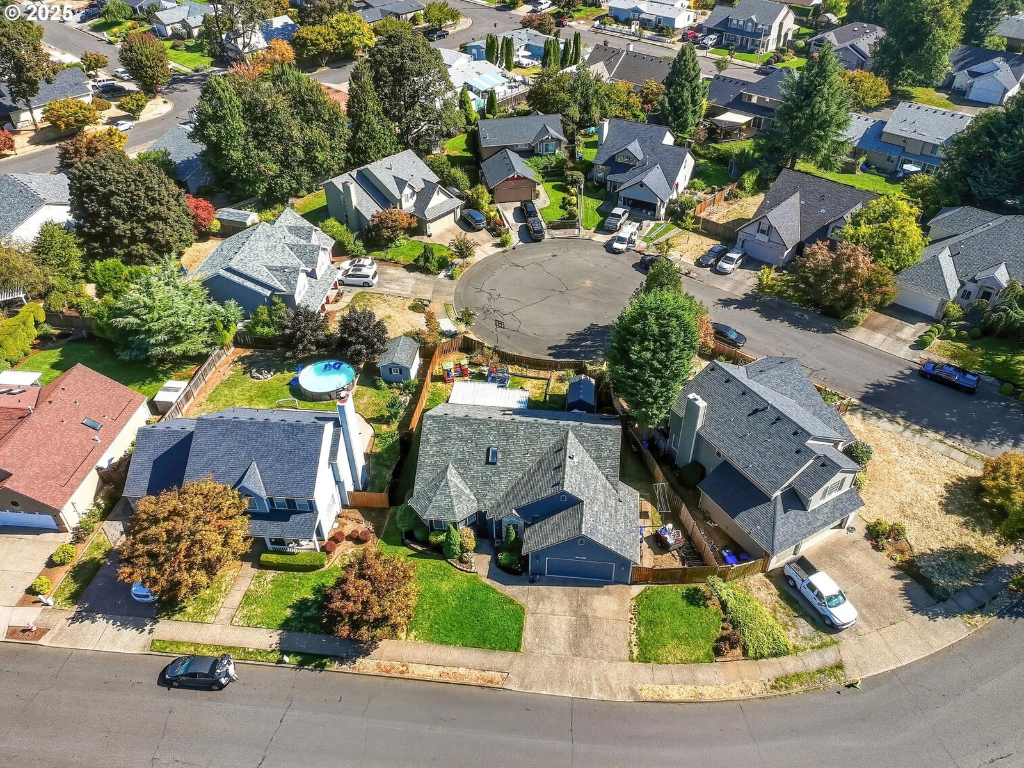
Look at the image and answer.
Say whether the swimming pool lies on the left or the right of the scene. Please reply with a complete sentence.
It is on the left.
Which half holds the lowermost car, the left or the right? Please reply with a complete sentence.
You can find the lowermost car on the left side of the picture.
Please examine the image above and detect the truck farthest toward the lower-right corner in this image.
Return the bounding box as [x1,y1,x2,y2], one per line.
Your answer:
[783,557,860,631]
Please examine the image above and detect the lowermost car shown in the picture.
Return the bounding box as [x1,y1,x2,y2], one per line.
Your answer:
[157,650,231,690]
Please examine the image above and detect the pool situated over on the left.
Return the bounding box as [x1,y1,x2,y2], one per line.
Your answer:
[296,360,357,404]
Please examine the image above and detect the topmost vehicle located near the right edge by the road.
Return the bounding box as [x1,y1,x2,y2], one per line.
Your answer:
[919,357,985,387]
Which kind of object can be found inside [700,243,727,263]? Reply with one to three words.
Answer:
car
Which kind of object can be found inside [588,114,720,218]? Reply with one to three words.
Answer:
house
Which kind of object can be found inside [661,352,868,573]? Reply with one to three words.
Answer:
house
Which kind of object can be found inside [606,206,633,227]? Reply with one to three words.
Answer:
truck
